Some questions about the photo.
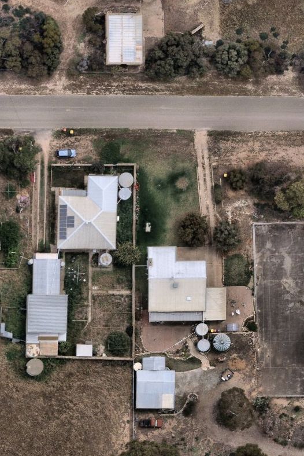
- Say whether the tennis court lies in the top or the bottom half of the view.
bottom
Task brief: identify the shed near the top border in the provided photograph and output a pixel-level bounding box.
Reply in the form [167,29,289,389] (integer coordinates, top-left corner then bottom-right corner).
[105,11,145,65]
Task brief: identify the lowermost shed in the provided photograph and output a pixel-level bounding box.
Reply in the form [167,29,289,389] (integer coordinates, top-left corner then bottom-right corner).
[136,370,175,410]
